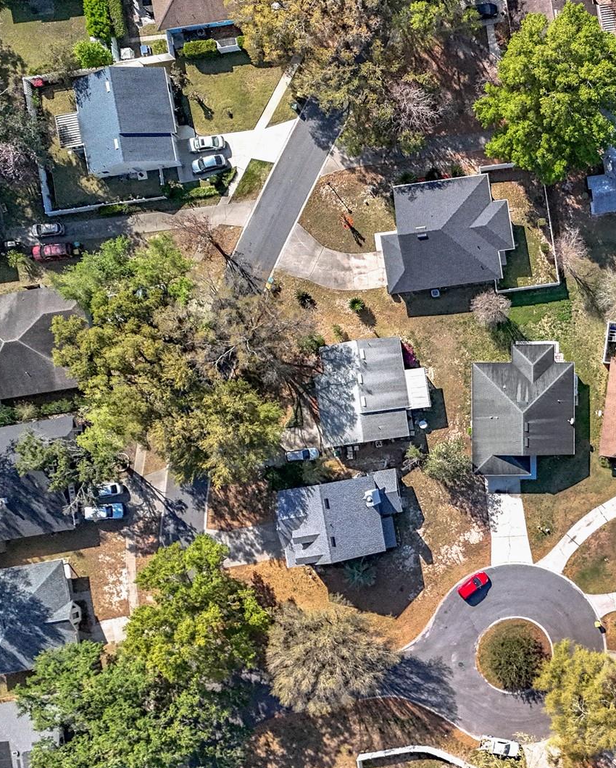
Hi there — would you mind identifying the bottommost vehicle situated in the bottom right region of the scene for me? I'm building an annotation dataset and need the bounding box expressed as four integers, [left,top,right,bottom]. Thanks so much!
[480,735,522,758]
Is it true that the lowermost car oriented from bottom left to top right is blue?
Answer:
No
